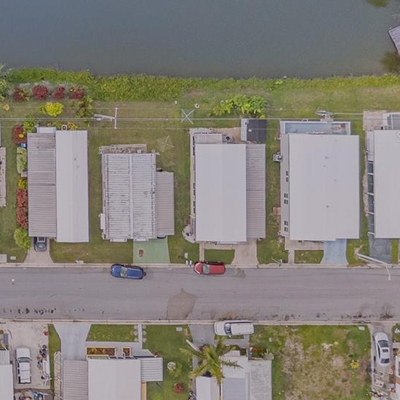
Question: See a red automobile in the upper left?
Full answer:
No, I can find no red automobile in the upper left.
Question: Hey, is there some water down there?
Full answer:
Yes, the picture does contain water.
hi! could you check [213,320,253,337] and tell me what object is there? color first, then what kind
white car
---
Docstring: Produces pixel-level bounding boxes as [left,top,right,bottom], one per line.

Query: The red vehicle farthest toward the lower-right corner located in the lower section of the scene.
[193,260,225,276]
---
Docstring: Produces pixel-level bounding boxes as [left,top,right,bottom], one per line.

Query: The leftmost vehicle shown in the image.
[15,346,31,385]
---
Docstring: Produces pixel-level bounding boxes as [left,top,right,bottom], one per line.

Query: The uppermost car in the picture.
[33,237,48,255]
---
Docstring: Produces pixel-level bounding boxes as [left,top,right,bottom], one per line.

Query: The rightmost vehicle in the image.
[371,331,390,366]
